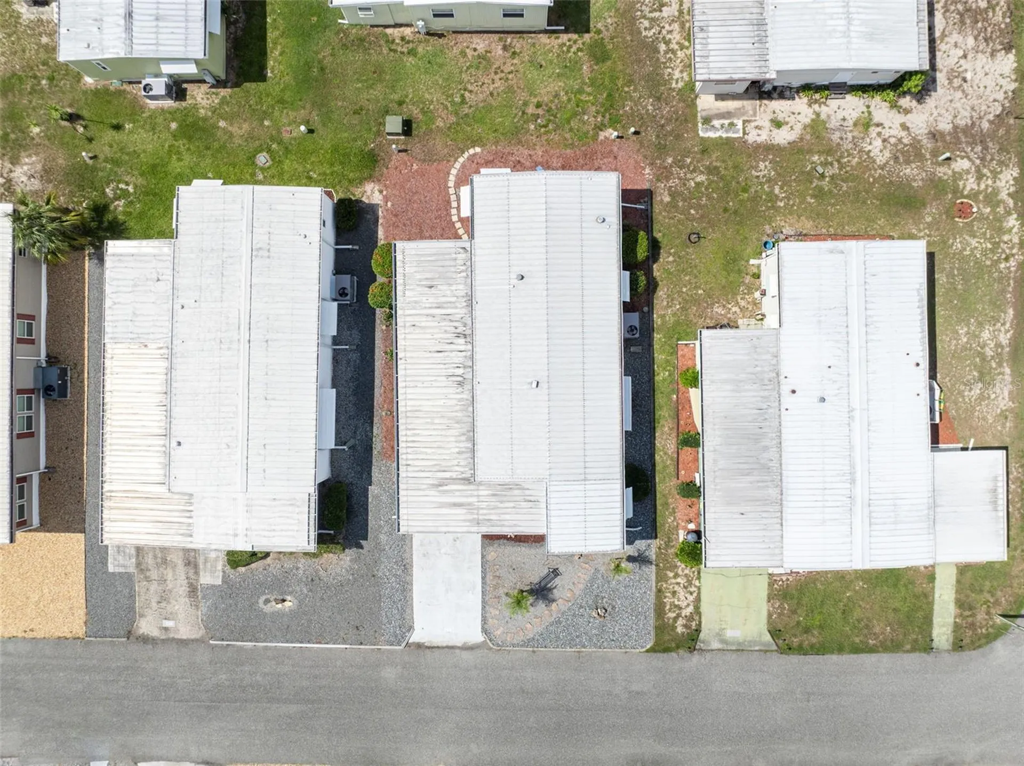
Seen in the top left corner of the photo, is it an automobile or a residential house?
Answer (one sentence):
The feature located in the top left corner of the photo is a residential house.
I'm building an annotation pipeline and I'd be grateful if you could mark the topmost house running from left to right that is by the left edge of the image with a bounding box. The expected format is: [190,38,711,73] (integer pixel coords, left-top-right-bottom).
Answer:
[48,0,225,82]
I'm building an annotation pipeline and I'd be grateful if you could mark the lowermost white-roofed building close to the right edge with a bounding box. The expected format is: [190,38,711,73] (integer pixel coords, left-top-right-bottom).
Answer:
[692,239,1009,571]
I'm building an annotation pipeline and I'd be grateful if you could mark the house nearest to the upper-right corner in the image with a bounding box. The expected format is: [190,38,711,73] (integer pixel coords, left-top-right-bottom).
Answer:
[690,0,930,98]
